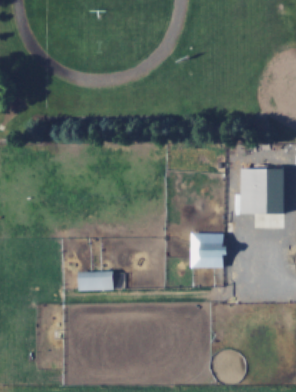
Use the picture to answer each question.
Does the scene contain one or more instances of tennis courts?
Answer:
No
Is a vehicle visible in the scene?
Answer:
No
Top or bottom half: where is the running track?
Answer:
top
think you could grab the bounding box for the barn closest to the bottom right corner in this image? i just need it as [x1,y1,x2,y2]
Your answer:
[190,233,226,268]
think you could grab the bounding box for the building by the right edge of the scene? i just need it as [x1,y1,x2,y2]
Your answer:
[236,168,284,214]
